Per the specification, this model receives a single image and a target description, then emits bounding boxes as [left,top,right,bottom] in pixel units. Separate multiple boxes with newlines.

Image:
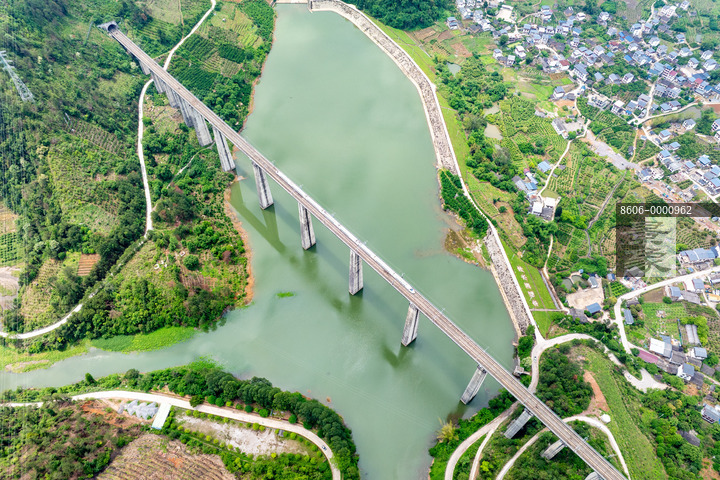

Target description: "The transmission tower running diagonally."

[2,66,33,105]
